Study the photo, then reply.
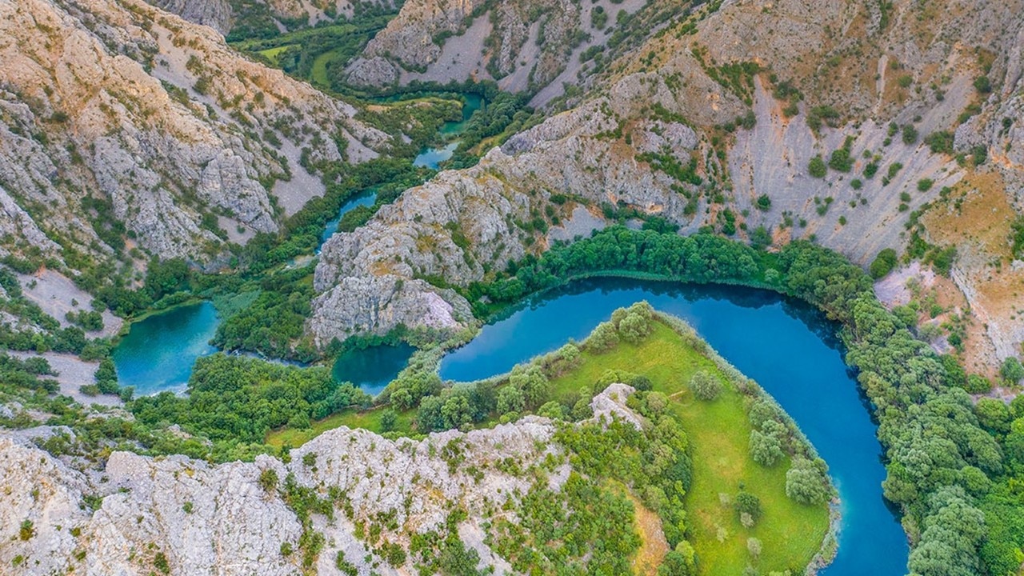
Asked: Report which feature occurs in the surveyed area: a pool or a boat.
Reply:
pool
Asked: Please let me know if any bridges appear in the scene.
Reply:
No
